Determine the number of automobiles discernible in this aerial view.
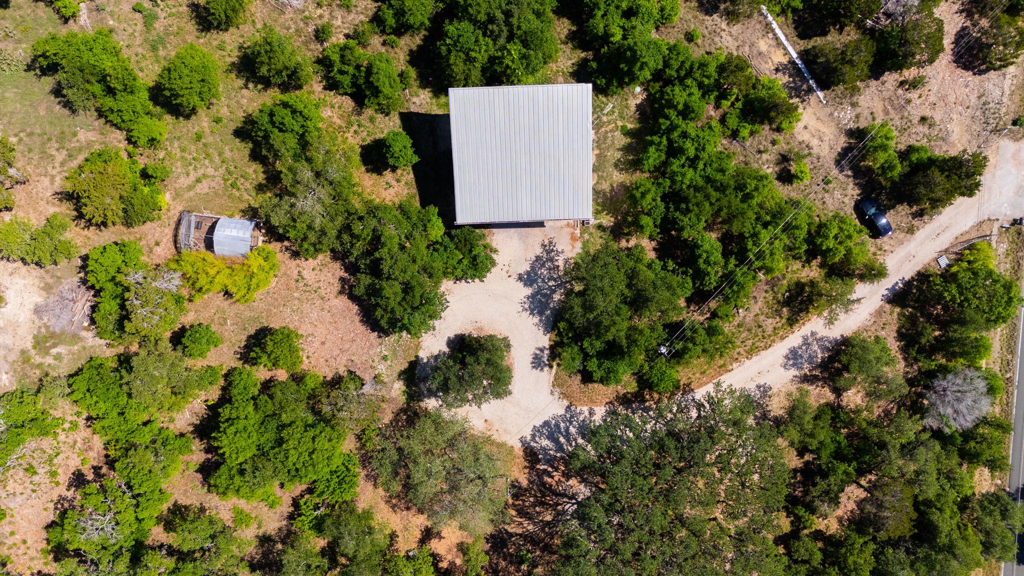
1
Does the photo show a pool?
No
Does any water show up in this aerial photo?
No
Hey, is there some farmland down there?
No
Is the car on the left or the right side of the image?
right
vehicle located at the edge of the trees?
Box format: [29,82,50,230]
[858,197,893,240]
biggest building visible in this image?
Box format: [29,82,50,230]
[448,82,595,226]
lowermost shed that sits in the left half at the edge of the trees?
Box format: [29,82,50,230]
[181,214,269,259]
